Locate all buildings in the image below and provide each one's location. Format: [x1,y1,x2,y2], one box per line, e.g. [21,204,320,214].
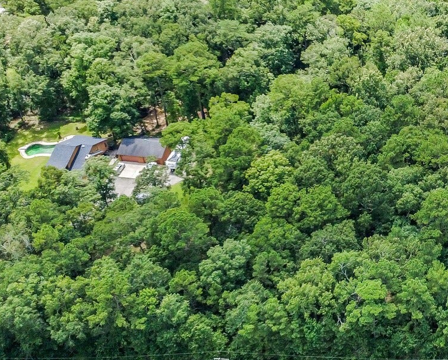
[116,135,170,163]
[43,137,108,172]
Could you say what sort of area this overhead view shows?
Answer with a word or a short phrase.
forest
